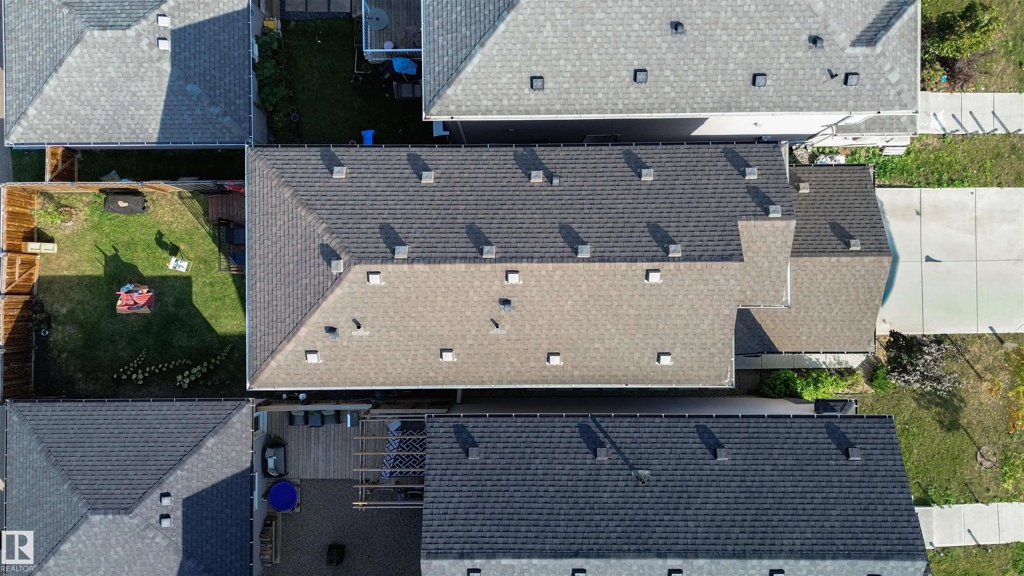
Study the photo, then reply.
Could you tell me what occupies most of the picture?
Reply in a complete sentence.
The bulk of the photo consists of buildings.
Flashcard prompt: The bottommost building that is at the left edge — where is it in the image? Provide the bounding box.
[5,398,270,576]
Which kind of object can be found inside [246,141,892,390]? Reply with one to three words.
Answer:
house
